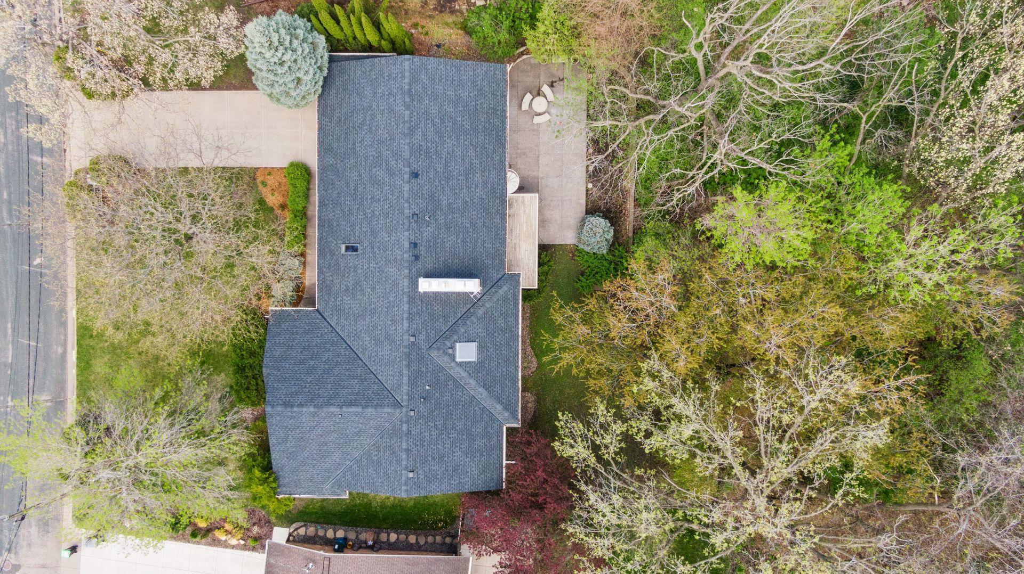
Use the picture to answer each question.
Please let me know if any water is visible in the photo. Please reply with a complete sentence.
No, the scene doesn't show any water.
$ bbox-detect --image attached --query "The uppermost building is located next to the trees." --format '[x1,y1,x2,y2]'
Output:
[264,51,523,500]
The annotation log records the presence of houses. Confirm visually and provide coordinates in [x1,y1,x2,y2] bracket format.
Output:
[260,537,474,574]
[264,51,523,500]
